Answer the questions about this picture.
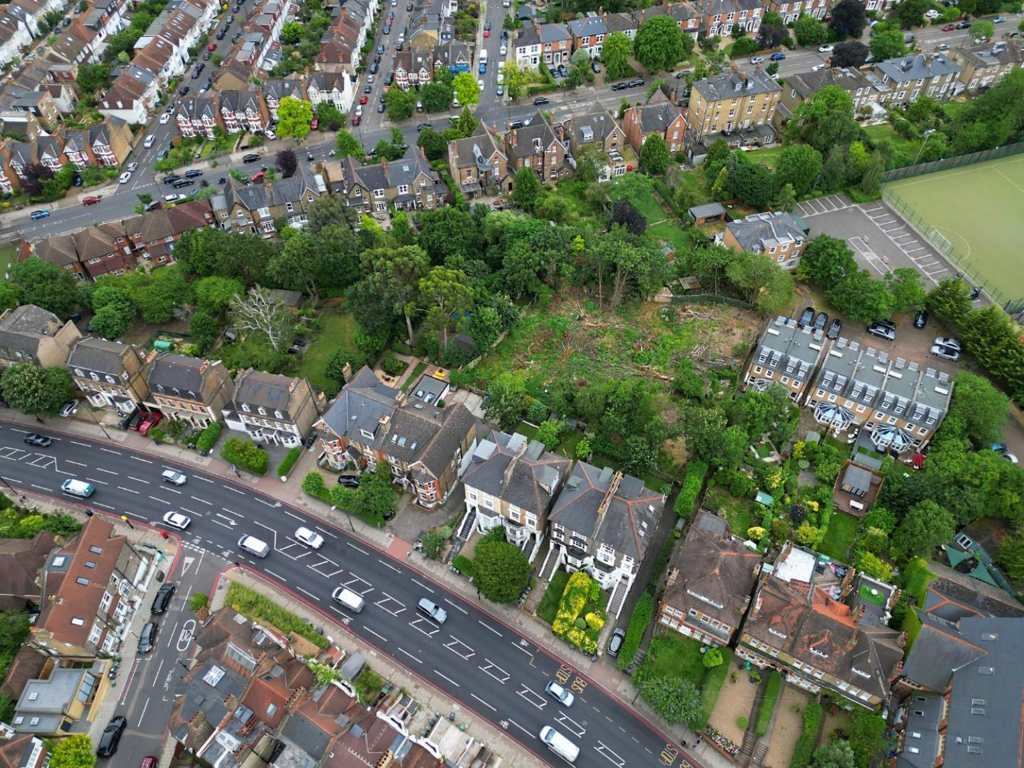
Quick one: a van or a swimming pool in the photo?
van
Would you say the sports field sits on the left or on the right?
right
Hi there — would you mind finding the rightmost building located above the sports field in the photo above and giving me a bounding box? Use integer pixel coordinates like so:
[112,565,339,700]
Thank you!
[946,33,1024,91]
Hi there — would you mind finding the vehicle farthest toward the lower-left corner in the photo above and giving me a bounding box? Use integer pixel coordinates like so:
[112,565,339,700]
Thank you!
[100,718,125,758]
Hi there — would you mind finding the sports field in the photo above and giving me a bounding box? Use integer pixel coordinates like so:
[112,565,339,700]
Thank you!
[885,153,1024,308]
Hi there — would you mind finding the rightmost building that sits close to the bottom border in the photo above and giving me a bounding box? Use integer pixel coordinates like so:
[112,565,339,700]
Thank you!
[874,562,1024,768]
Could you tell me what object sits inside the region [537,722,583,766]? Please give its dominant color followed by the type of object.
white van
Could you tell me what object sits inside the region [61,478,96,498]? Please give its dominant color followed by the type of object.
white vehicle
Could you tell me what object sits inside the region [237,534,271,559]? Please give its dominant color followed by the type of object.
white vehicle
